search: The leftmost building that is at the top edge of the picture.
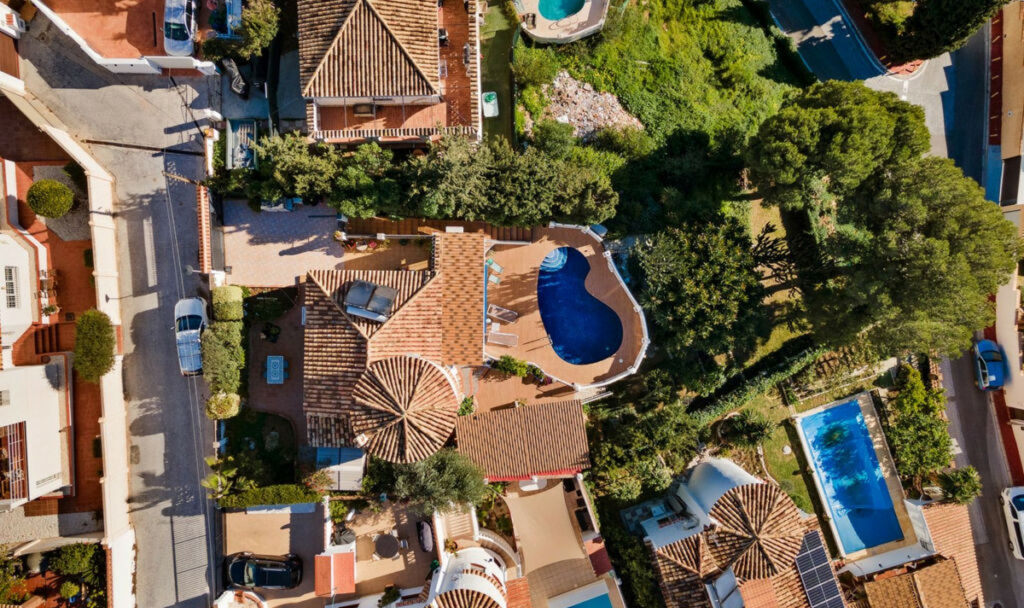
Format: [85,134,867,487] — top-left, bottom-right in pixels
[0,4,41,88]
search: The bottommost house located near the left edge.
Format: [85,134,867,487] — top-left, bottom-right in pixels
[0,352,72,508]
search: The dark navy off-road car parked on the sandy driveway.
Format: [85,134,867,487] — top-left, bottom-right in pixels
[229,543,309,586]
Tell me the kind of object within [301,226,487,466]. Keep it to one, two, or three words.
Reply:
house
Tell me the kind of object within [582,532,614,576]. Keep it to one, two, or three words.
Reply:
shed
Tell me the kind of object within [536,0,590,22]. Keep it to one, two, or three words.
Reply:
swimming pool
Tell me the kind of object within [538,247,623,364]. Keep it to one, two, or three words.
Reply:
swimming pool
